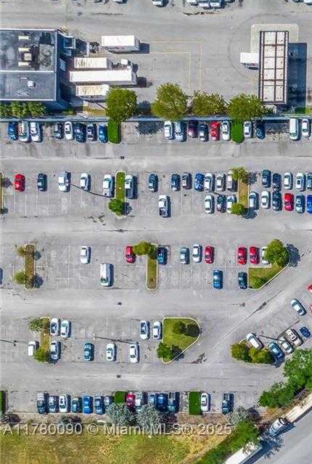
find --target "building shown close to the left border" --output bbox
[0,28,84,112]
